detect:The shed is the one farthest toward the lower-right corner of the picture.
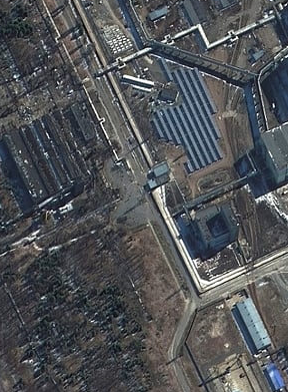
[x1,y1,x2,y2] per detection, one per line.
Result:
[266,362,286,392]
